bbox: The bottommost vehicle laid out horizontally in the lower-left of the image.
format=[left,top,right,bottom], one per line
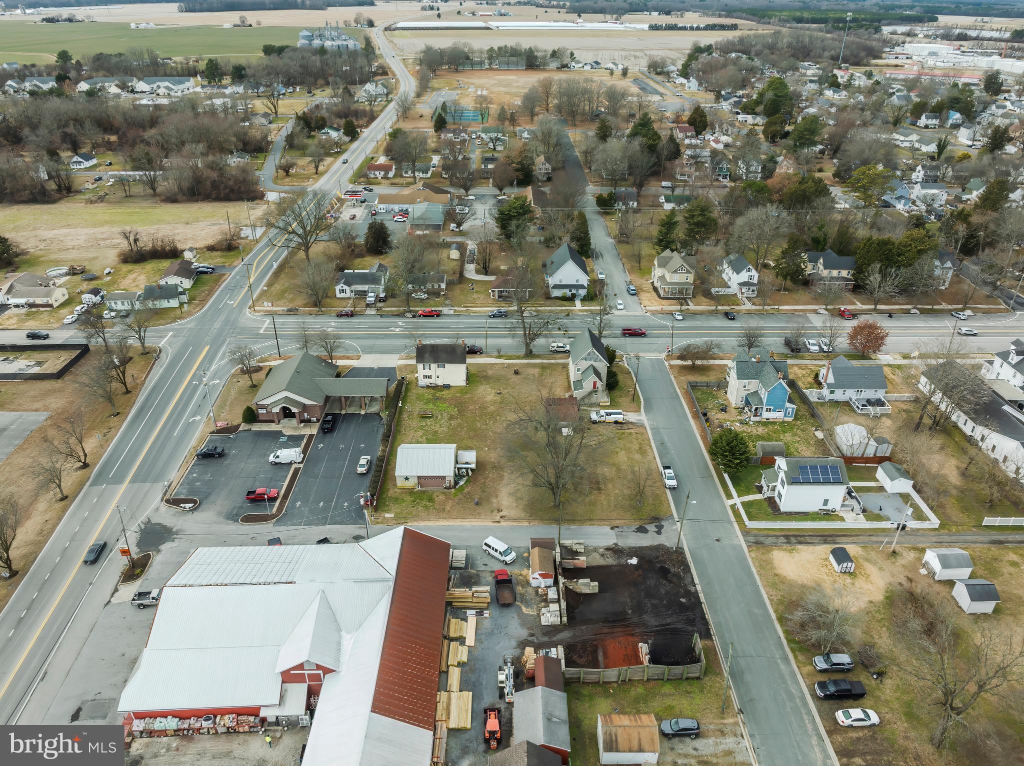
[117,583,163,605]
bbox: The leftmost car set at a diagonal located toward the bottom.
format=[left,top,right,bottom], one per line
[73,536,112,563]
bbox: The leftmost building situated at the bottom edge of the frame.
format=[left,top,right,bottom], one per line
[105,520,451,766]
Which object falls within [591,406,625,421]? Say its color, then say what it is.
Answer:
white vehicle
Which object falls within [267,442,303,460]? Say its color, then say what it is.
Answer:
white vehicle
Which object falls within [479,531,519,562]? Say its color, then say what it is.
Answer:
white van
